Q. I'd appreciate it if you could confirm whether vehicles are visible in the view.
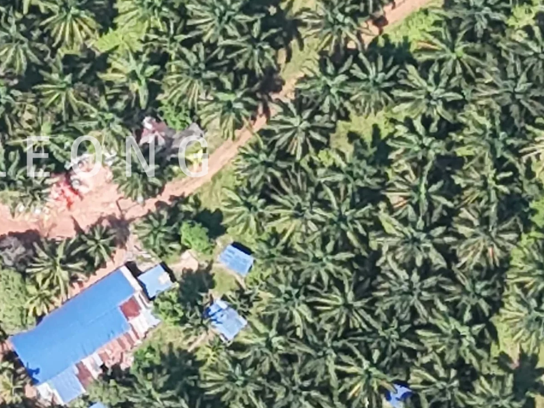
No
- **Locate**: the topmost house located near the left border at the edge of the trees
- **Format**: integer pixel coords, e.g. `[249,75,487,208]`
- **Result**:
[9,267,161,403]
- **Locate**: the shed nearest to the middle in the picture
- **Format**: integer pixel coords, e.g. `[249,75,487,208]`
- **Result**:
[219,245,253,279]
